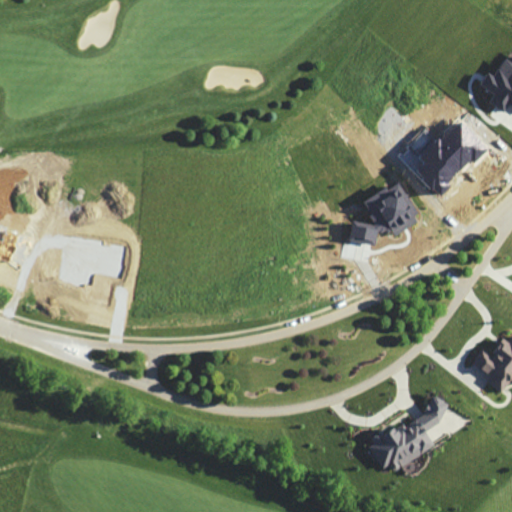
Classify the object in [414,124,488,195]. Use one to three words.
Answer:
house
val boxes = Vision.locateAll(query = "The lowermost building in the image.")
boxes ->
[373,392,454,472]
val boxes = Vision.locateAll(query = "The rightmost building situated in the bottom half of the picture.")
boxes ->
[474,332,512,397]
